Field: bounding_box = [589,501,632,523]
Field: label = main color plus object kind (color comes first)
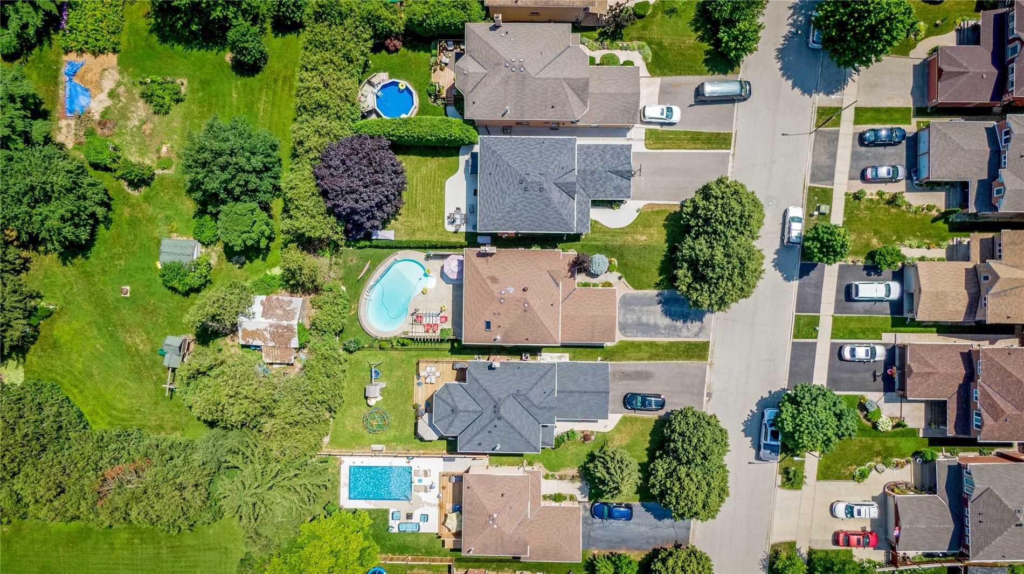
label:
blue car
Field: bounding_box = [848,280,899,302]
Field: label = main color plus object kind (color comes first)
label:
white car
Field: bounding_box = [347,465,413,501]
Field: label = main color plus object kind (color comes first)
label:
blue swimming pool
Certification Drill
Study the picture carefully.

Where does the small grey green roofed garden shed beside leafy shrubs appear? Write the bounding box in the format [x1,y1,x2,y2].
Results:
[157,239,204,263]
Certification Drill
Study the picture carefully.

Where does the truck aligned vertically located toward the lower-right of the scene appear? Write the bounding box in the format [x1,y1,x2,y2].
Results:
[758,406,783,461]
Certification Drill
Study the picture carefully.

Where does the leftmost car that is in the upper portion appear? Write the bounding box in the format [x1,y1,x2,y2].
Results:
[641,103,680,124]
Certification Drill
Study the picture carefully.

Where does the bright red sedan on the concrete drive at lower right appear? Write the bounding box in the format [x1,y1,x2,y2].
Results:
[834,528,877,550]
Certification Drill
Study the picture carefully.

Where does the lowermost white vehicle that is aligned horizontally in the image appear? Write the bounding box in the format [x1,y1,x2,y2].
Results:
[831,499,879,521]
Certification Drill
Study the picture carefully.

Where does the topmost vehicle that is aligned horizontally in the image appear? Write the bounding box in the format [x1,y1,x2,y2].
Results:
[694,78,749,102]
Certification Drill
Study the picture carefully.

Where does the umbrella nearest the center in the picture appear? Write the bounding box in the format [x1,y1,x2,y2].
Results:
[439,251,463,283]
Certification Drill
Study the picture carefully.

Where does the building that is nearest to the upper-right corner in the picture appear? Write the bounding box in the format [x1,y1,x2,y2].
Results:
[927,0,1024,105]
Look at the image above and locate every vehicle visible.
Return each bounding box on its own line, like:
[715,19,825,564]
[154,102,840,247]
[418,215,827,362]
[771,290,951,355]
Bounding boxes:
[834,528,877,550]
[861,163,904,183]
[848,280,899,302]
[781,206,805,248]
[694,78,749,102]
[622,392,665,413]
[641,103,680,124]
[831,499,879,521]
[839,343,884,364]
[858,126,904,146]
[589,501,632,523]
[758,406,783,461]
